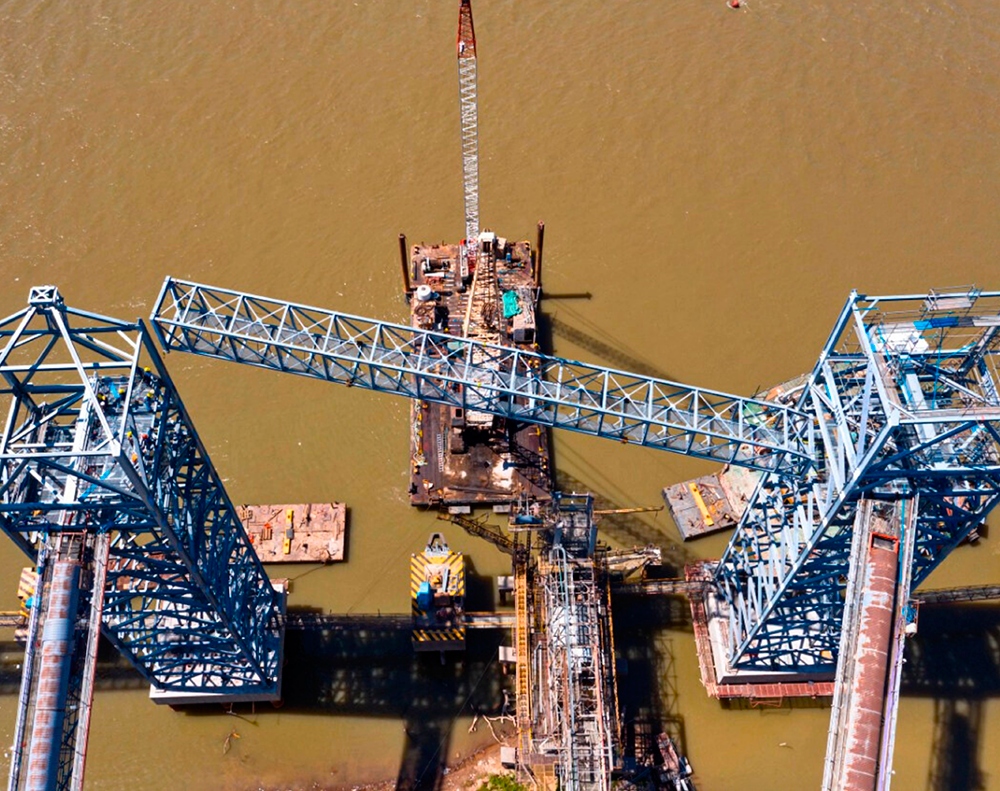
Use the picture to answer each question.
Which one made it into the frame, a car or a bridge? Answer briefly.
bridge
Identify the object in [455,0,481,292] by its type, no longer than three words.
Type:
crane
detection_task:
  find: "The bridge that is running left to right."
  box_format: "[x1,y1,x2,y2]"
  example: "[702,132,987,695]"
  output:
[148,259,814,481]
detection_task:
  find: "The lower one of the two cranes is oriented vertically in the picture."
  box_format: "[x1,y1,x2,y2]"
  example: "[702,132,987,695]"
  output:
[447,231,517,465]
